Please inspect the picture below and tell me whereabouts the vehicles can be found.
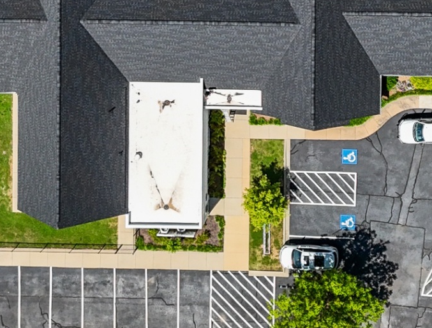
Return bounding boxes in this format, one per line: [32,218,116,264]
[281,241,339,272]
[397,115,432,144]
